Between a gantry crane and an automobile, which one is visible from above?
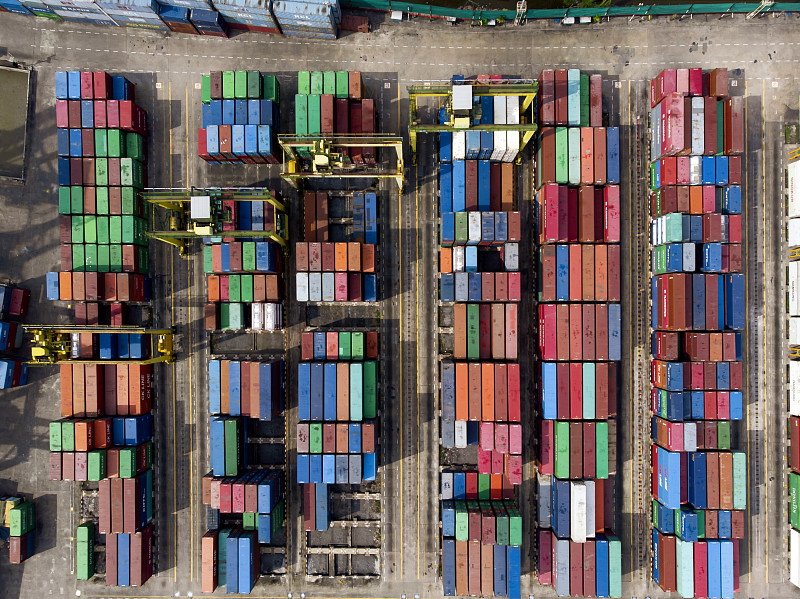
gantry crane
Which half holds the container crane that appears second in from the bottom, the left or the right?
left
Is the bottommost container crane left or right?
left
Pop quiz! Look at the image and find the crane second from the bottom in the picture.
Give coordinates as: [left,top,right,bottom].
[137,187,287,258]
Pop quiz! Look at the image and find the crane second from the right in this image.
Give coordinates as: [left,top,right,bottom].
[277,134,403,196]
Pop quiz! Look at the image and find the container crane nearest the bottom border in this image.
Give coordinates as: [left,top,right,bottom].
[20,319,173,366]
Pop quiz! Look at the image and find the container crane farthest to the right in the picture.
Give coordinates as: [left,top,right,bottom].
[407,80,539,169]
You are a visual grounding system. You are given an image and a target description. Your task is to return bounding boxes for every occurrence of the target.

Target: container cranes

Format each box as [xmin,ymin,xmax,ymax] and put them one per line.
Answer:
[407,80,539,169]
[20,319,173,366]
[277,134,403,196]
[137,187,287,258]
